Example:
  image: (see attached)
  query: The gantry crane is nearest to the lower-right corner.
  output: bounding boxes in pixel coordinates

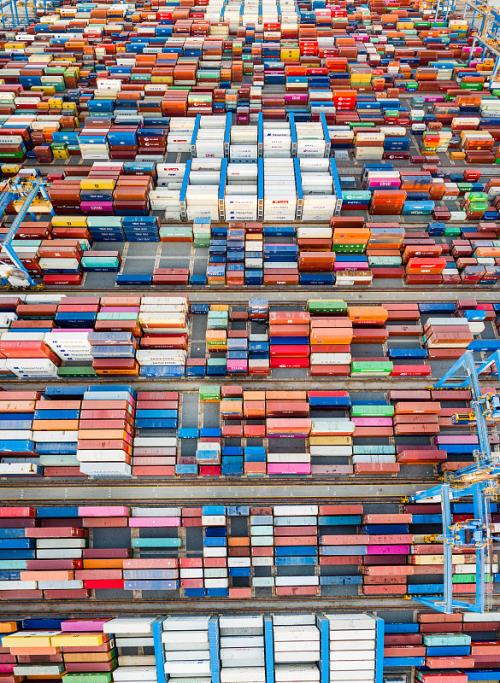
[400,490,500,627]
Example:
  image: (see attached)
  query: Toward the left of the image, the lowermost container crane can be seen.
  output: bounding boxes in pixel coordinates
[0,179,57,292]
